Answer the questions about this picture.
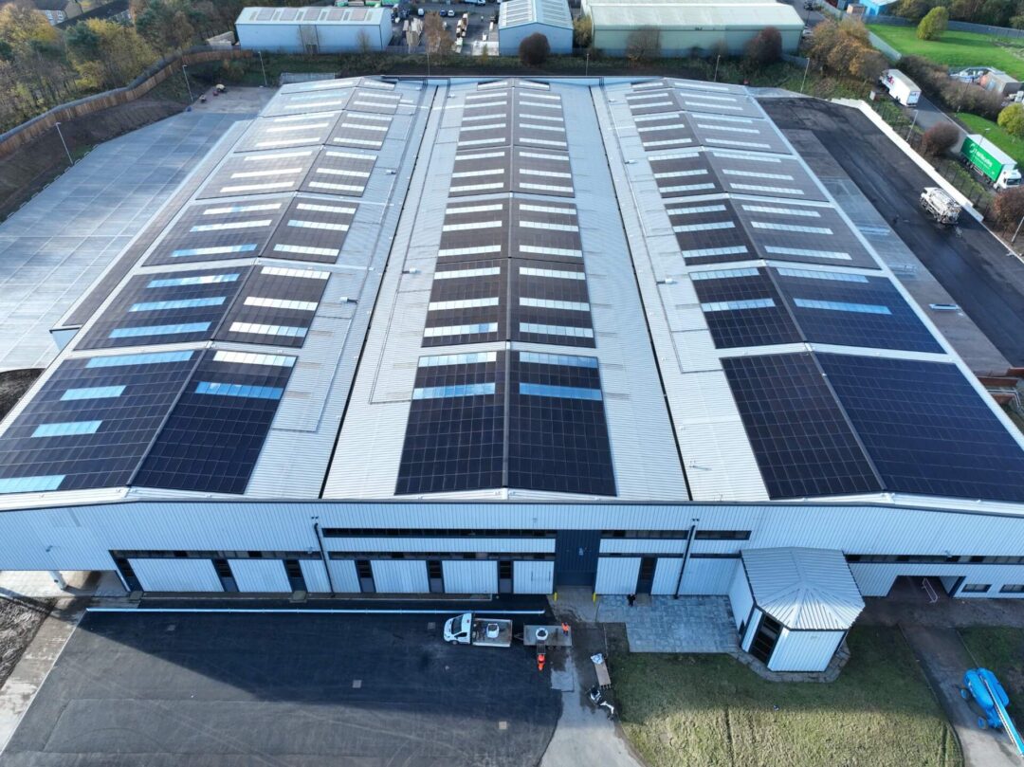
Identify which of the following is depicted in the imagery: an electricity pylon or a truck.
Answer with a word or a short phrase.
truck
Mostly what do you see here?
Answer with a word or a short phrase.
buildings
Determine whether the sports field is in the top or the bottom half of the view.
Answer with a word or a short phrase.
top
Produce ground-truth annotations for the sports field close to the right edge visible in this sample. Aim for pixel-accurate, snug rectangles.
[855,22,1024,77]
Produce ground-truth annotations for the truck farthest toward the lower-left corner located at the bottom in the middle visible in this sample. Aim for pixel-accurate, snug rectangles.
[442,614,512,647]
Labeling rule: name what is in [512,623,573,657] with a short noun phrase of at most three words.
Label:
trailer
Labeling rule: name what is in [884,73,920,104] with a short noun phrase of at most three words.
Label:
truck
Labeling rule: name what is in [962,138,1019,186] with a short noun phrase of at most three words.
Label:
truck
